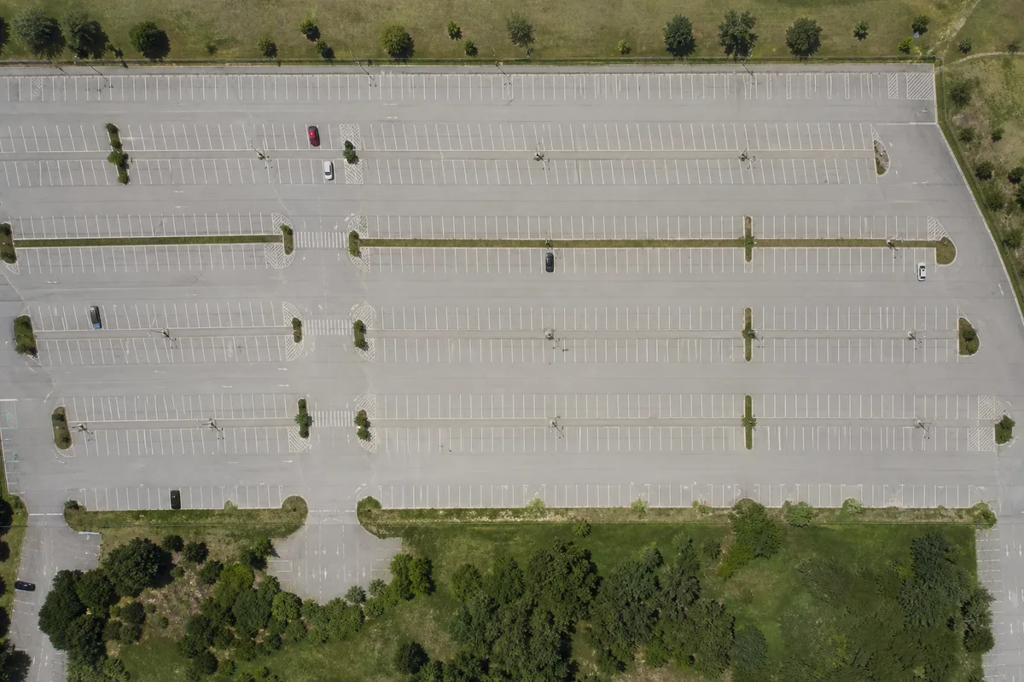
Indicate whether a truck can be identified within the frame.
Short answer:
No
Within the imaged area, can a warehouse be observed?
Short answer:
No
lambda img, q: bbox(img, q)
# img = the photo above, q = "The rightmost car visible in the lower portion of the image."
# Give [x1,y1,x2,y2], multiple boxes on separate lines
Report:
[168,490,180,510]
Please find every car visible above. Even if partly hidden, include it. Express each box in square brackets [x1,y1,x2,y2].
[308,125,318,145]
[918,263,928,281]
[14,581,34,592]
[87,306,101,328]
[168,490,180,510]
[323,160,333,180]
[545,251,554,271]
